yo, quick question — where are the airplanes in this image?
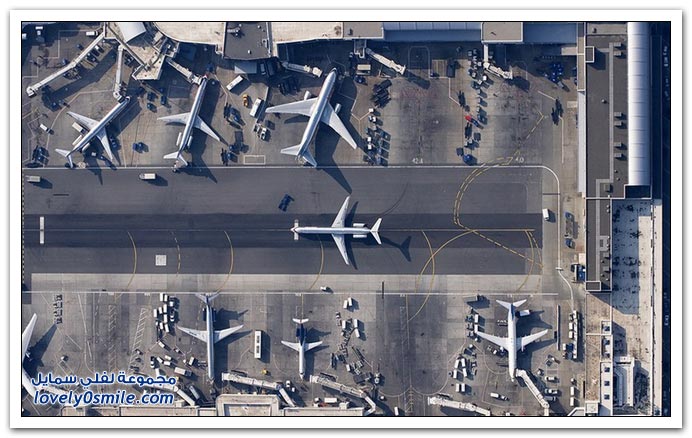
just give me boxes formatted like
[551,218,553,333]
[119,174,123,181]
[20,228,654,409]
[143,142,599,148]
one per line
[266,68,355,162]
[291,197,382,264]
[176,292,242,379]
[55,97,131,168]
[156,76,219,165]
[477,304,547,383]
[282,322,322,379]
[0,314,42,400]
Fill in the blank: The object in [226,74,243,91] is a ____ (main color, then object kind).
white vehicle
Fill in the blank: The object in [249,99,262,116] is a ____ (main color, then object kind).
white vehicle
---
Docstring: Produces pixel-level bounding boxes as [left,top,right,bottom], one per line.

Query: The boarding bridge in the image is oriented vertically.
[113,43,125,99]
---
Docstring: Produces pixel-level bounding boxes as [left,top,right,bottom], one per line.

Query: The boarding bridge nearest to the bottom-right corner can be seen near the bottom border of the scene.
[513,370,550,424]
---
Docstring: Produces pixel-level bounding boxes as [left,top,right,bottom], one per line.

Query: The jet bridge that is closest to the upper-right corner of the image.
[483,60,514,80]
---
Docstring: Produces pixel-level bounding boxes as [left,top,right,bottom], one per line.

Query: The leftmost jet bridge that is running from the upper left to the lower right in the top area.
[164,58,203,83]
